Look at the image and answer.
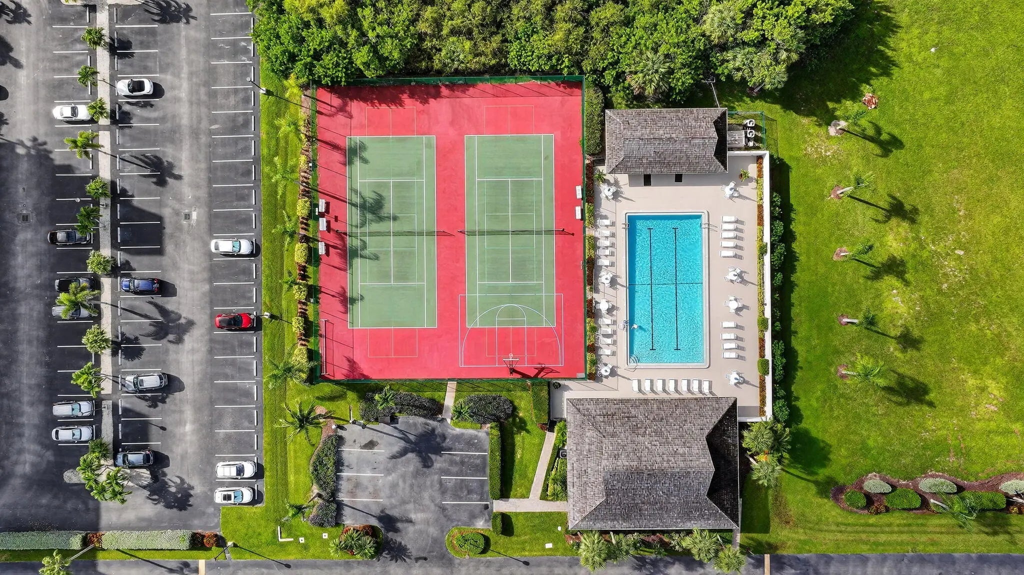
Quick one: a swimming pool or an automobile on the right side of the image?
swimming pool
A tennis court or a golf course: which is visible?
tennis court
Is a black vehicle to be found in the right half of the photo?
No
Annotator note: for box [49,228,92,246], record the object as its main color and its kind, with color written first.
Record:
black car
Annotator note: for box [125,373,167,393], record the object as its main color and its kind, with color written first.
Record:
gray car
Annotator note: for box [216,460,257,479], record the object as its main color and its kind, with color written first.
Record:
white car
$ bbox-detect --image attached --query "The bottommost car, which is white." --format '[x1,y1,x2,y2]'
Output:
[214,486,254,505]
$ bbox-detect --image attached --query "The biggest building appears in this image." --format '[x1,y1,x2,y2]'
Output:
[567,397,739,530]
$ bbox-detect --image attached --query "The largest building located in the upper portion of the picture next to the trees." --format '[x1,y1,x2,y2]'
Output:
[605,107,729,174]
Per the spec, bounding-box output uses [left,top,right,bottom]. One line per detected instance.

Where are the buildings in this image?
[605,107,729,174]
[567,397,739,530]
